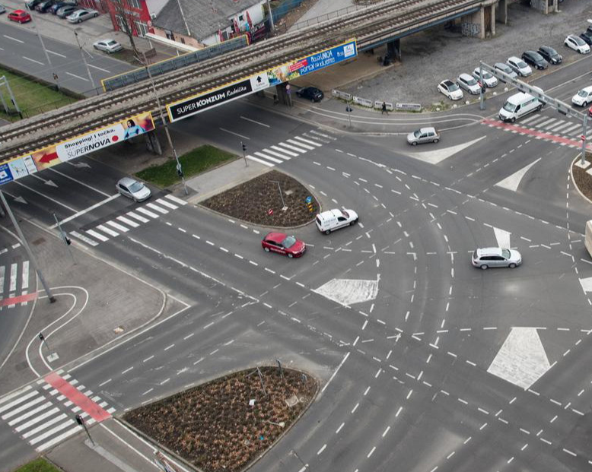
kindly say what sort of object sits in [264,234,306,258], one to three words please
car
